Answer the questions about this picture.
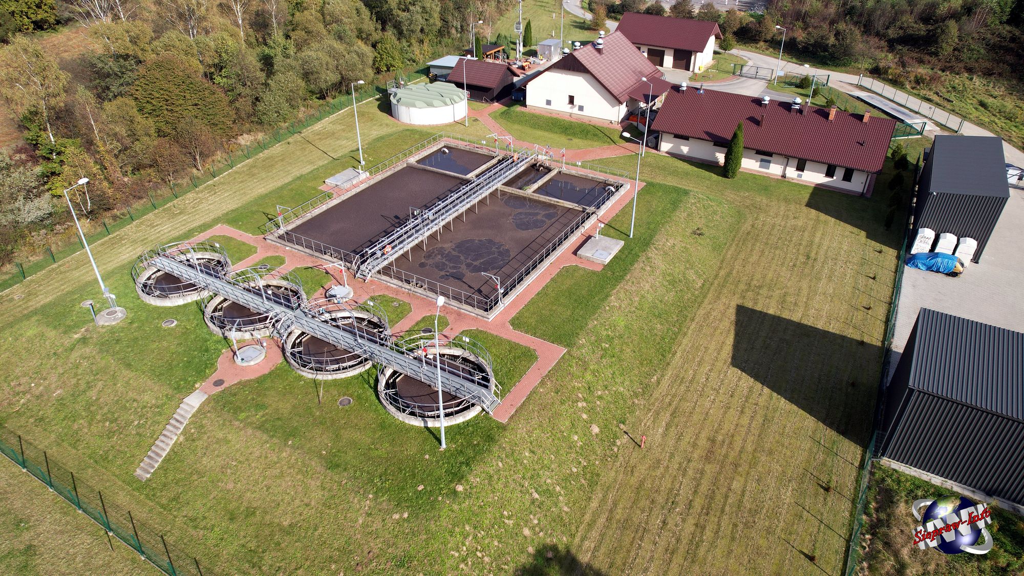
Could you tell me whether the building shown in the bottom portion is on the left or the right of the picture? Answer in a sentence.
The building shown in the bottom portion sits on the right side.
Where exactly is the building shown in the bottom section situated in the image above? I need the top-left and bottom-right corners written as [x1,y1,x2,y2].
[877,304,1024,515]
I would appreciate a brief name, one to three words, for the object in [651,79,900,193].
house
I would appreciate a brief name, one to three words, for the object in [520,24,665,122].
house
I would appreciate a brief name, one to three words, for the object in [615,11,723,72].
building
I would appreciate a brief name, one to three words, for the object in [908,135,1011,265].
building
